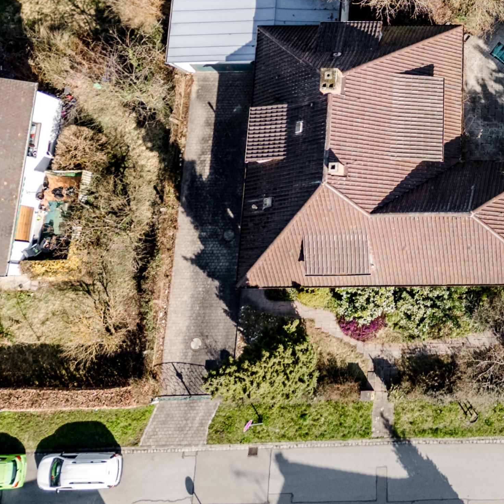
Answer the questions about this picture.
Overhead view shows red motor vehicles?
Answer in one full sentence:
No, I can't see a single red motor vehicle in this photo.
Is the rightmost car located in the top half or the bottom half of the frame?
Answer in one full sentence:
You can find the rightmost car in the bottom half.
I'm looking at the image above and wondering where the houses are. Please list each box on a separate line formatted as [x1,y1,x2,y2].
[236,19,504,289]
[0,78,62,277]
